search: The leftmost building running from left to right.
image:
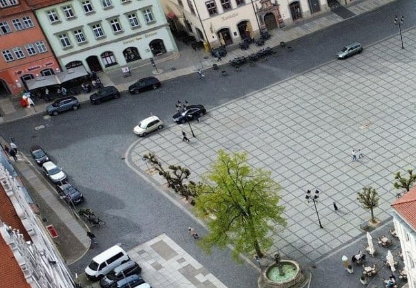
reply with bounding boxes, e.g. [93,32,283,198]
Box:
[31,0,175,69]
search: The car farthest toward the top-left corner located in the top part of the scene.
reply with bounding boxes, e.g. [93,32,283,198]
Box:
[44,91,80,113]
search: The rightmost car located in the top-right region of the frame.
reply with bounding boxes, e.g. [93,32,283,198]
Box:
[335,39,364,57]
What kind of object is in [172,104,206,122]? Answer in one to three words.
car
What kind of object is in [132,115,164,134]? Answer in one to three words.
car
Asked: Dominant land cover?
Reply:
paved ground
